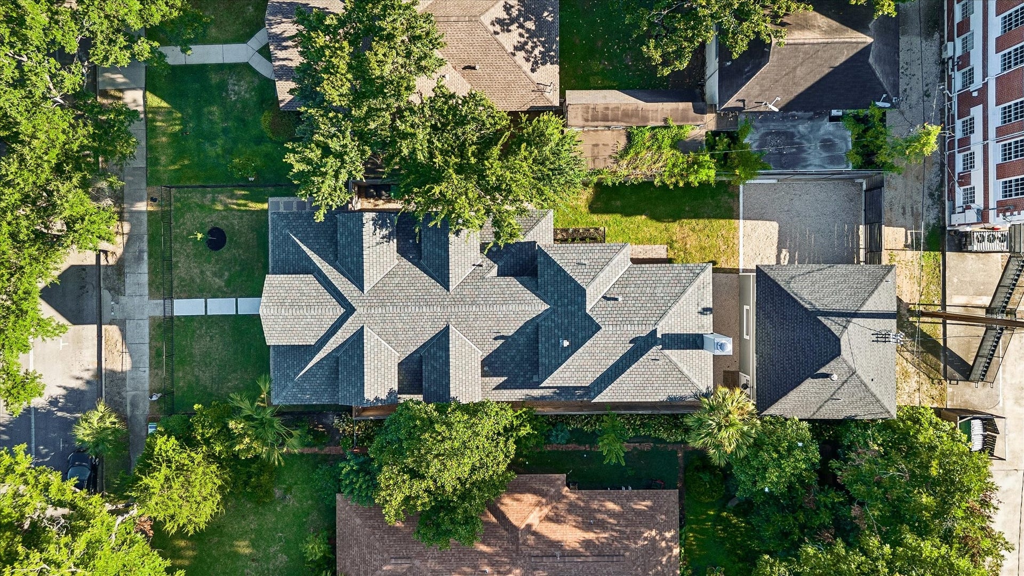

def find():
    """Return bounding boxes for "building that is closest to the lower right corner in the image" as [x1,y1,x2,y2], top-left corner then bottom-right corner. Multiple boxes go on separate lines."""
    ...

[740,264,898,417]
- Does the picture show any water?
No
